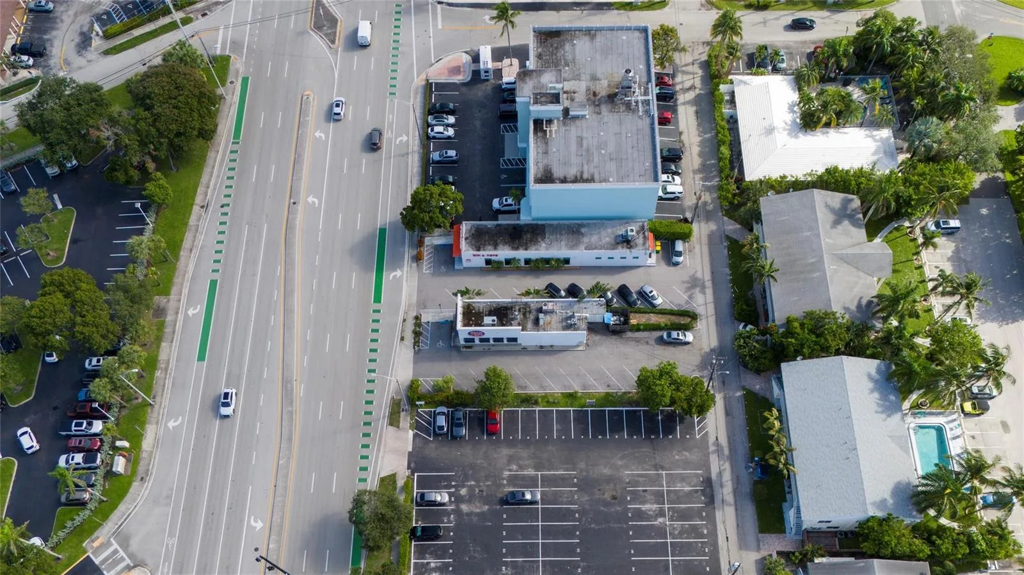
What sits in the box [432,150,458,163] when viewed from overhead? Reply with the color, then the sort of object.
blue vehicle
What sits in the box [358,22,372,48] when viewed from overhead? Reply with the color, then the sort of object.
white vehicle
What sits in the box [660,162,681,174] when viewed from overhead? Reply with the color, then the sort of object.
gray vehicle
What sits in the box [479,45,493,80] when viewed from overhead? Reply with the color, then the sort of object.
white vehicle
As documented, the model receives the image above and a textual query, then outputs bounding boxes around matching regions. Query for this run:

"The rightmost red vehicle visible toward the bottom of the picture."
[486,407,499,435]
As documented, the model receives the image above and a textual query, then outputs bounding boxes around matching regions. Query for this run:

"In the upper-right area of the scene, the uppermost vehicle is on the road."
[790,18,816,30]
